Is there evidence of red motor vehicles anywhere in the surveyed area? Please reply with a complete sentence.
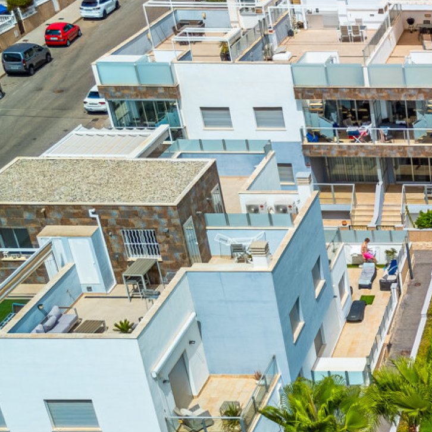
Yes, there's a red motor vehicle down there.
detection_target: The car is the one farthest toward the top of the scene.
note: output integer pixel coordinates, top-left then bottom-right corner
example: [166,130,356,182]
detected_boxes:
[79,0,121,18]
